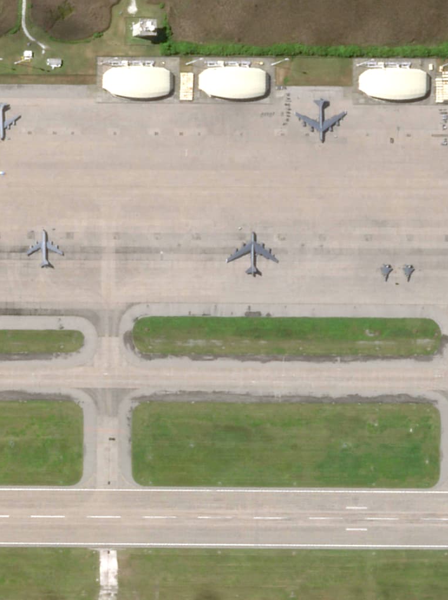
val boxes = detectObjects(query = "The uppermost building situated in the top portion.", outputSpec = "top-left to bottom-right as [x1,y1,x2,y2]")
[131,19,158,37]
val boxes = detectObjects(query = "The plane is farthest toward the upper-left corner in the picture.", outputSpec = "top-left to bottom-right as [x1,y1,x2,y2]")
[0,103,21,140]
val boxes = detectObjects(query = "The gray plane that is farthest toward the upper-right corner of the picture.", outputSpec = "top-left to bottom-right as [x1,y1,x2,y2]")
[297,99,349,143]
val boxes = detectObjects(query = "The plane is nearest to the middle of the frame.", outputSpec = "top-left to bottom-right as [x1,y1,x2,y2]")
[227,230,278,274]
